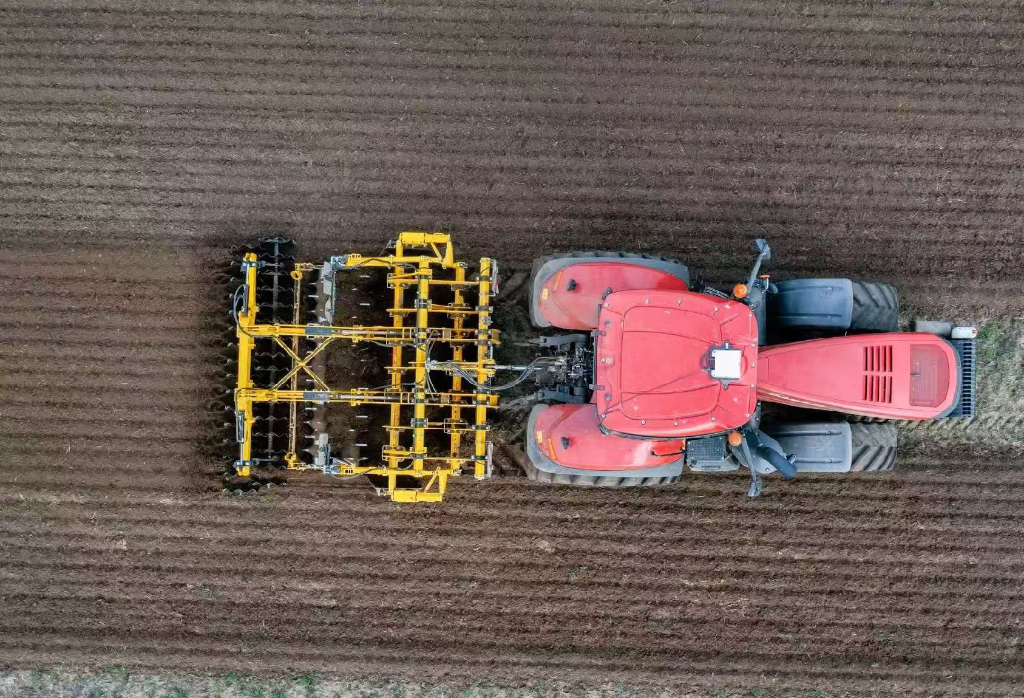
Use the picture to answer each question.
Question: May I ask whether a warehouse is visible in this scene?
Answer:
No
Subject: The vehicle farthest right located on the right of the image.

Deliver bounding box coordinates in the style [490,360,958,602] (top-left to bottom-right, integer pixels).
[496,239,976,496]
